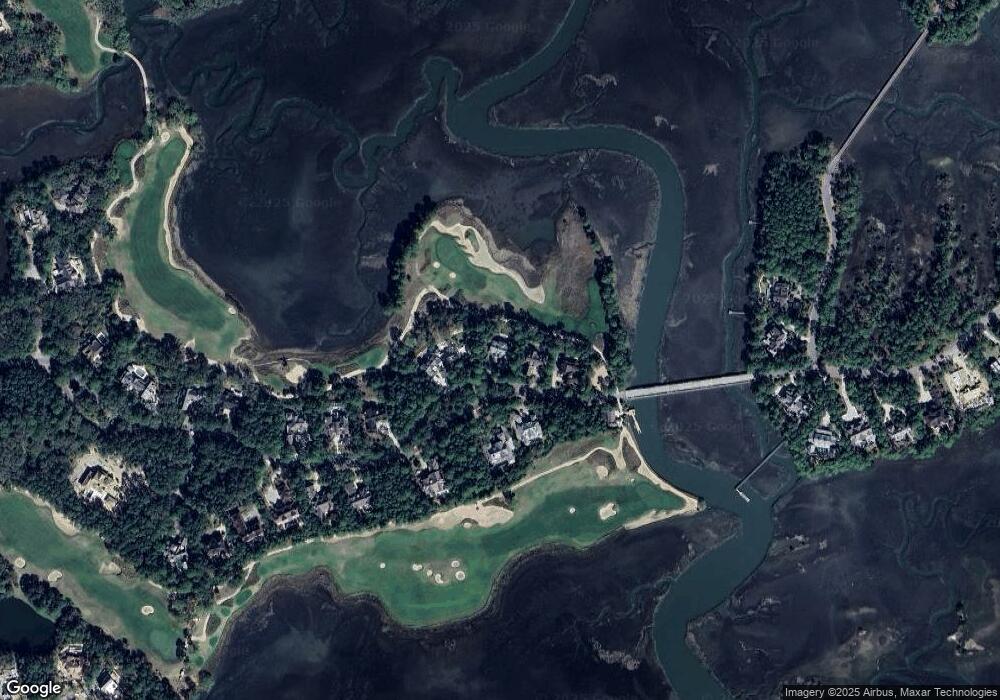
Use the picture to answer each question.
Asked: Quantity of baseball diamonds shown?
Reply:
0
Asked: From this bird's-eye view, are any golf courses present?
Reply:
Yes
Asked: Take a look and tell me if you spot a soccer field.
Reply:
No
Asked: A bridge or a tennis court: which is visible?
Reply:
bridge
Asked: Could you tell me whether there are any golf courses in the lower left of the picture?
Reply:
Yes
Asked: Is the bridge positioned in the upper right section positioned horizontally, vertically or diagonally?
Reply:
diagonally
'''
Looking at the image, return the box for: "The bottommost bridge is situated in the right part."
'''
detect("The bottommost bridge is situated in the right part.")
[617,374,751,399]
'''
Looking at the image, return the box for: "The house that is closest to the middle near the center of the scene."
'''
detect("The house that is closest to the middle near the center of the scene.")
[486,334,509,364]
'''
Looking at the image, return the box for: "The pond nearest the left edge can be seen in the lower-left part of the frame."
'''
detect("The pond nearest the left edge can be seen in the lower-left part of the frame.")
[0,596,57,656]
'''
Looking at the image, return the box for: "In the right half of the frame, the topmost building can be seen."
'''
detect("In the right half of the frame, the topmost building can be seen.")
[768,281,801,311]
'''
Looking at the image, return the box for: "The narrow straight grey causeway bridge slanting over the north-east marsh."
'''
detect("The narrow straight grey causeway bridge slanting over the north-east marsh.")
[830,29,931,168]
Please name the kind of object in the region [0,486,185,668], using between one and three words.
golf course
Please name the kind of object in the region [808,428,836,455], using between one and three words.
house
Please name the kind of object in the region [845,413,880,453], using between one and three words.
house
